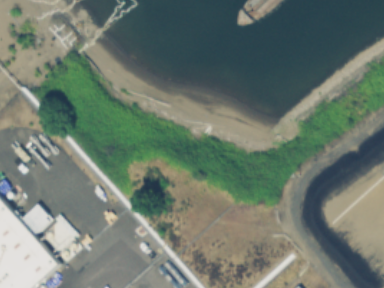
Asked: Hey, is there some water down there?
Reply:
Yes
